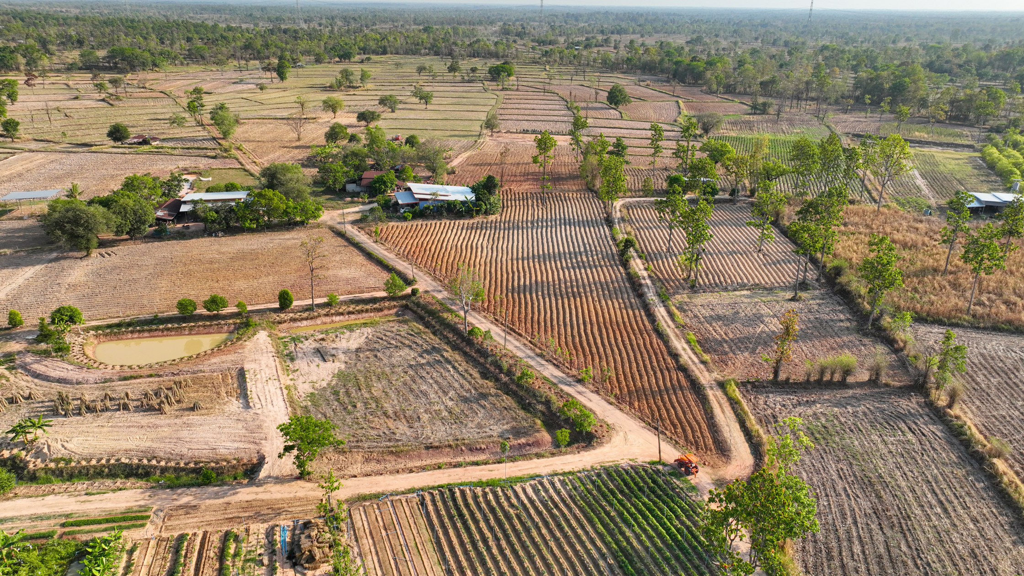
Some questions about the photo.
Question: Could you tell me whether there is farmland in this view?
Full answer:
Yes, there's farmland in this view.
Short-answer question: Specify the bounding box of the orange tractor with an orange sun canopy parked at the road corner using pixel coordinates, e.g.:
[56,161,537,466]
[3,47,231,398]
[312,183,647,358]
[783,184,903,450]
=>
[672,451,699,477]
